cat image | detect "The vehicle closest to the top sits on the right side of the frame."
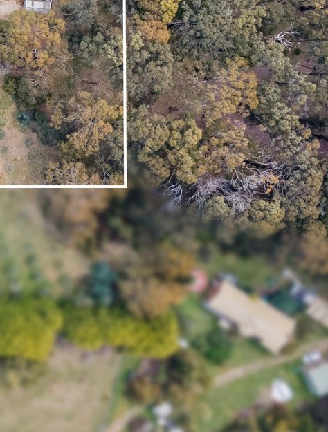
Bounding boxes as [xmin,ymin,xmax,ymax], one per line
[300,350,320,363]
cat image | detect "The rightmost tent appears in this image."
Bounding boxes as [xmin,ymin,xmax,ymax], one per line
[271,380,291,402]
